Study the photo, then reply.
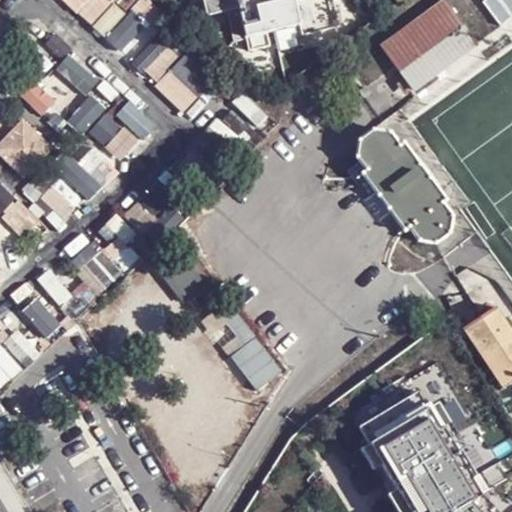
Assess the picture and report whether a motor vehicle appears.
Yes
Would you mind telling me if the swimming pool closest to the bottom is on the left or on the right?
right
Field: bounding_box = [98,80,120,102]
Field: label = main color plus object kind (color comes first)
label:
white camper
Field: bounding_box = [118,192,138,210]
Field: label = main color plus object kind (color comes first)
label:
white vehicle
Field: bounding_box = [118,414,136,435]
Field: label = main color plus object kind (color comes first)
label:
white car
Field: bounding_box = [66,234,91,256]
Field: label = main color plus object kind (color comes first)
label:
white camper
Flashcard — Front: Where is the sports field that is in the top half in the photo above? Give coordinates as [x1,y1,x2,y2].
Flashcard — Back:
[410,50,512,280]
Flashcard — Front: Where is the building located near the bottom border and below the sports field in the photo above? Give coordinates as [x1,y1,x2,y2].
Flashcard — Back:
[358,364,508,512]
